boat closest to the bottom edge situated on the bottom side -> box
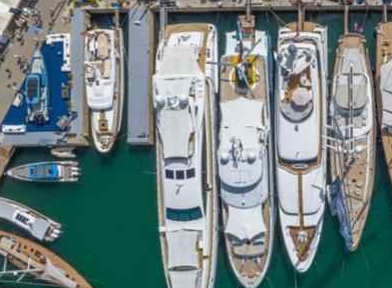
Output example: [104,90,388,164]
[0,226,100,288]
